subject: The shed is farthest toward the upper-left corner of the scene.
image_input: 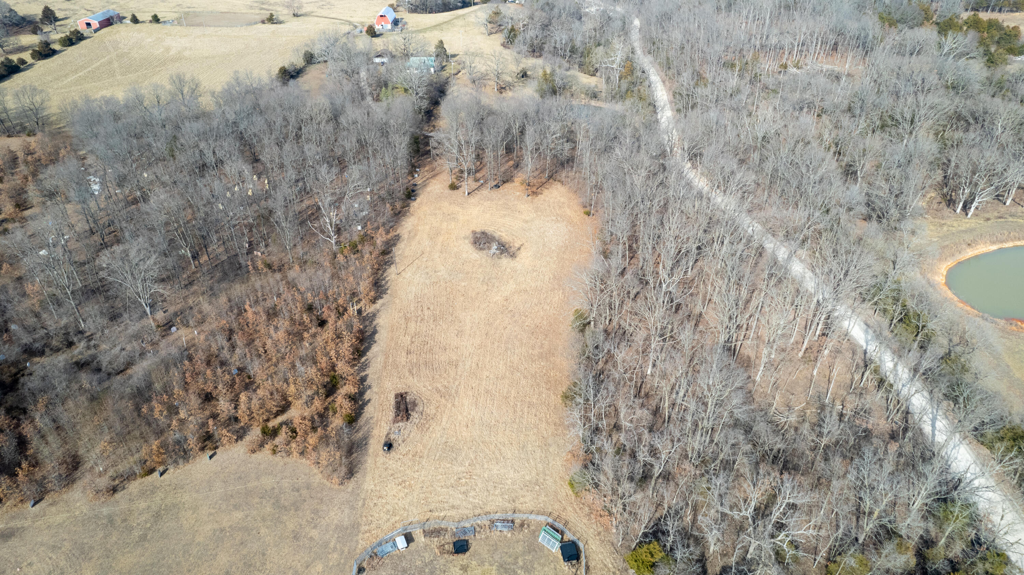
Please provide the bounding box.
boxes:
[76,8,114,36]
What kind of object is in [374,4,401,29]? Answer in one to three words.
barn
